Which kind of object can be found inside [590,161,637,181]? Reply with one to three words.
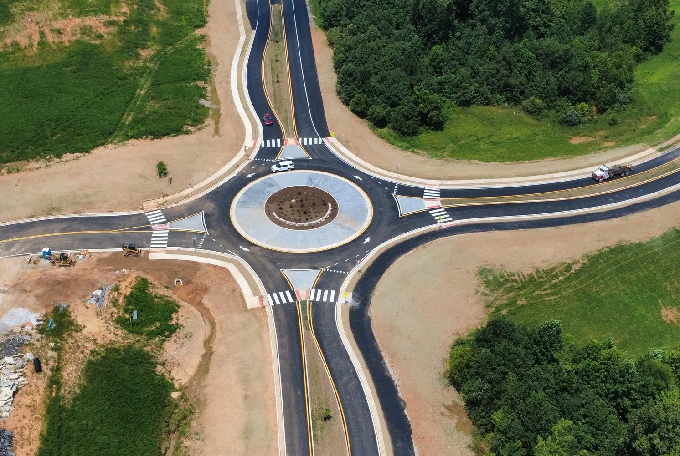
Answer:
vehicle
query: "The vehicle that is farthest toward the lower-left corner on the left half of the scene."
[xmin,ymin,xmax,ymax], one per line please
[46,250,78,268]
